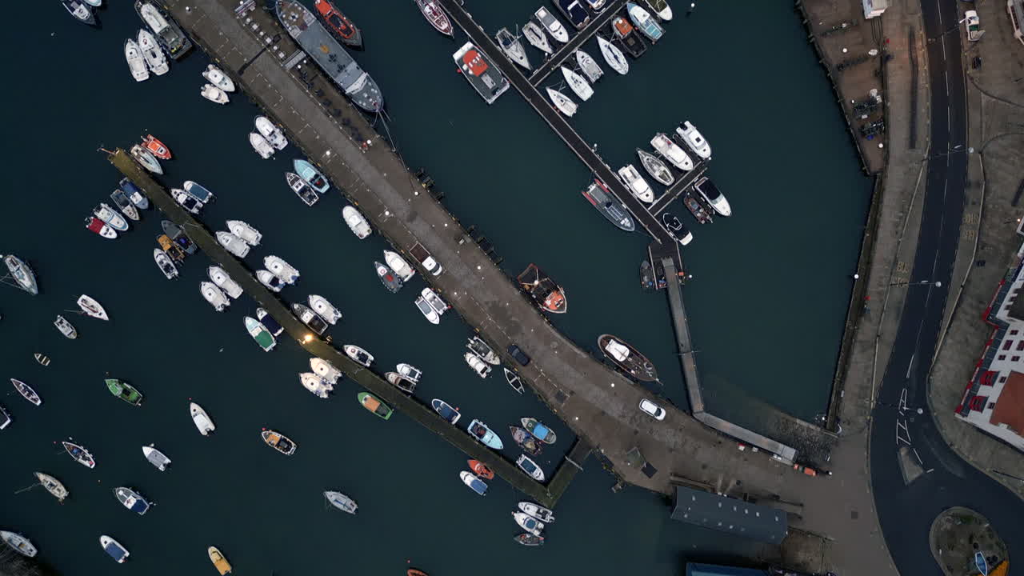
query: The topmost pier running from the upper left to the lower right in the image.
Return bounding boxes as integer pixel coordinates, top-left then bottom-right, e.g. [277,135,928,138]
[436,0,676,245]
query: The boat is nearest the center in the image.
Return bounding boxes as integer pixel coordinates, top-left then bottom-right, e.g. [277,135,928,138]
[518,265,567,314]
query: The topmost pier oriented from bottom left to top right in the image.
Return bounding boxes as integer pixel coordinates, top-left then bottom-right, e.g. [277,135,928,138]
[530,0,633,90]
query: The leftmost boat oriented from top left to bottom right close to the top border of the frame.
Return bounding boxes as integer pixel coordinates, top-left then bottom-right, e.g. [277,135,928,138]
[67,0,98,26]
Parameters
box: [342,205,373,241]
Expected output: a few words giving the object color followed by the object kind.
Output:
white boat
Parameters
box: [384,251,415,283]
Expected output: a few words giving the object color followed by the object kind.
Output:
white boat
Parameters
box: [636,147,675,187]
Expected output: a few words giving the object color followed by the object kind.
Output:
gray boat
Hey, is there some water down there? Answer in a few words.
Yes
